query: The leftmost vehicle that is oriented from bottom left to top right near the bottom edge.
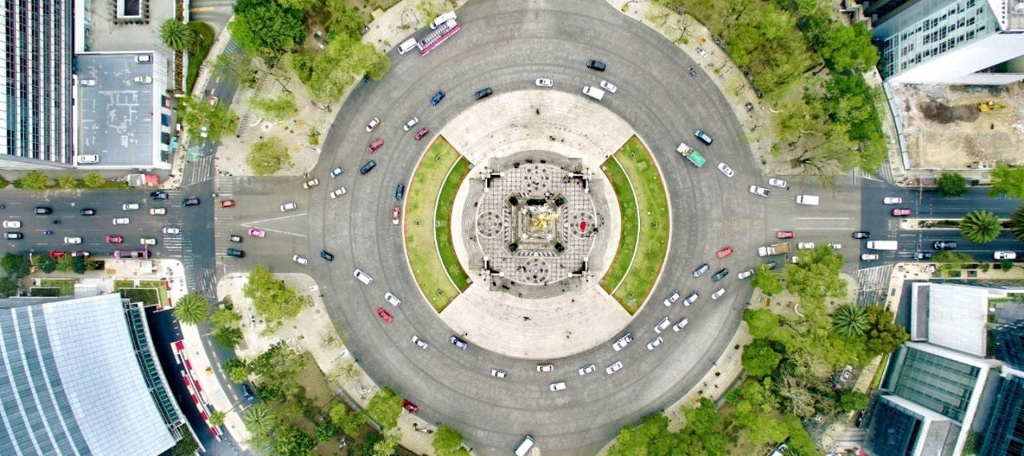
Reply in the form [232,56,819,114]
[511,430,537,456]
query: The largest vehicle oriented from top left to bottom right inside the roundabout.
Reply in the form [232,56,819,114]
[674,141,708,169]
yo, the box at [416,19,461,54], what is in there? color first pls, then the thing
white bus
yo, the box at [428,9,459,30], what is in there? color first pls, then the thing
white vehicle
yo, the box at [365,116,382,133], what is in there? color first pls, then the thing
white car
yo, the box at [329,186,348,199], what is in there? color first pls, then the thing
white vehicle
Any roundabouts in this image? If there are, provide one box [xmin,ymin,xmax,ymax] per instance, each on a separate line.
[306,0,766,454]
